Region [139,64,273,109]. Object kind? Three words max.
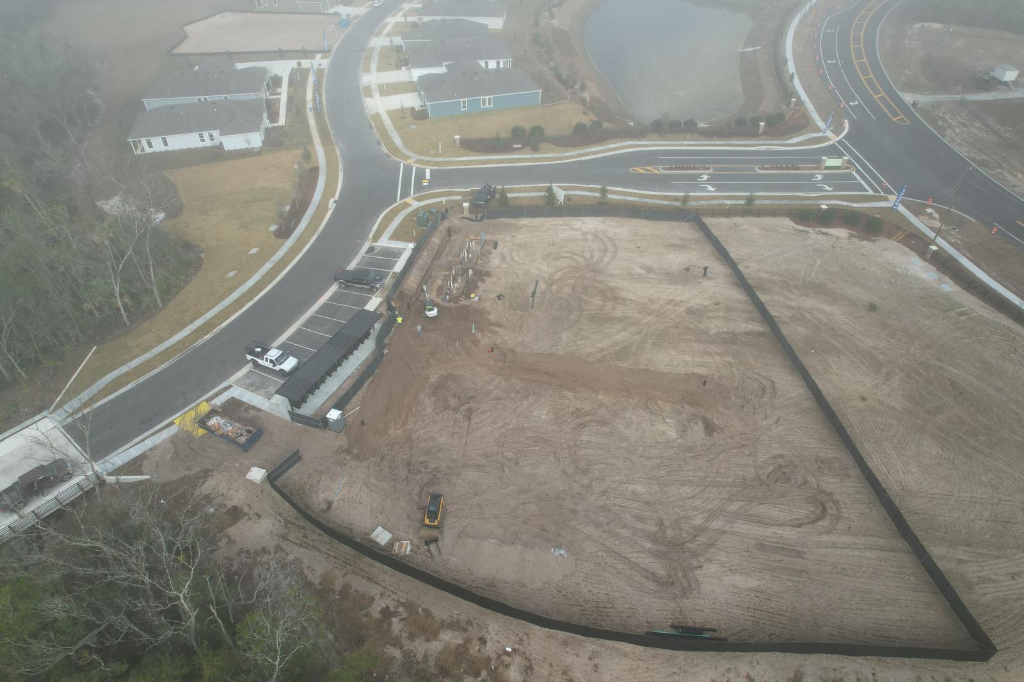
house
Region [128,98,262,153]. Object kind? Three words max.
house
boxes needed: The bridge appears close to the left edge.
[0,349,151,536]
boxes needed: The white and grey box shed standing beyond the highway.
[985,58,1021,86]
